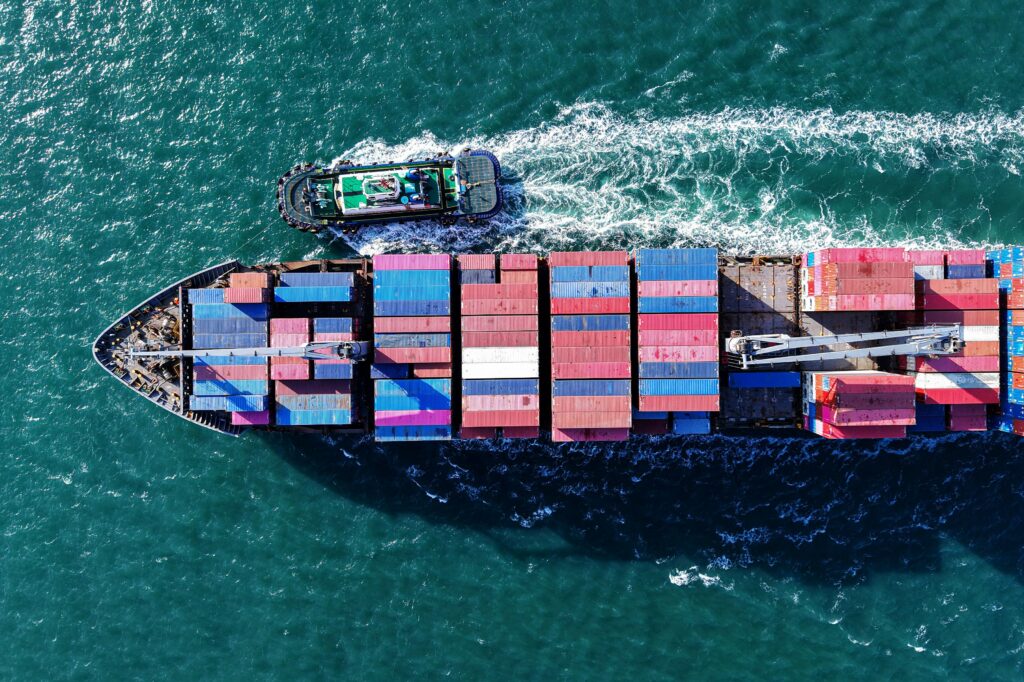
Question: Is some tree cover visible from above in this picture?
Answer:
No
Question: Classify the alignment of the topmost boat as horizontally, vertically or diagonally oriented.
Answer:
horizontally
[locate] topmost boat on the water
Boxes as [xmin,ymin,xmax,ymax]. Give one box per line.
[278,150,504,233]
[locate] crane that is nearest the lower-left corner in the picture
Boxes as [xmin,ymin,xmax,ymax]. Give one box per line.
[127,333,374,363]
